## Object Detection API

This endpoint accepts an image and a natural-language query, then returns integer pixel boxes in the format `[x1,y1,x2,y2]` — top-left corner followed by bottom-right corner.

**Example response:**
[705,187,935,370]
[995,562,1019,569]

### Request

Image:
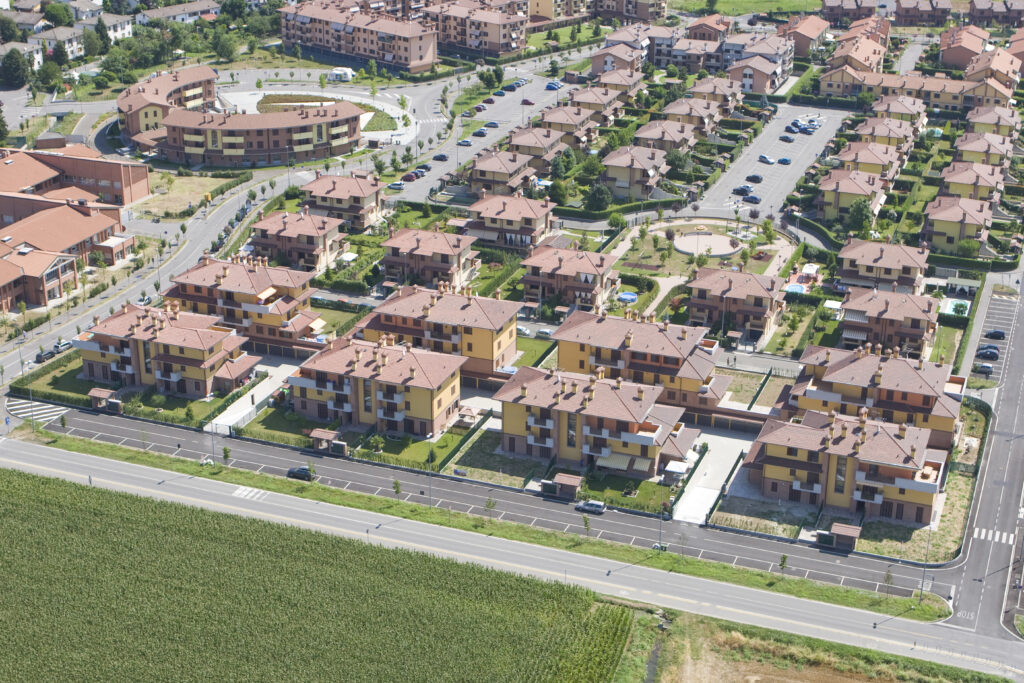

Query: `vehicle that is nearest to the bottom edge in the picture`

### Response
[574,501,607,516]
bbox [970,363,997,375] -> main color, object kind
gray vehicle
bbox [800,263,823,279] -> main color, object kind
white gazebo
